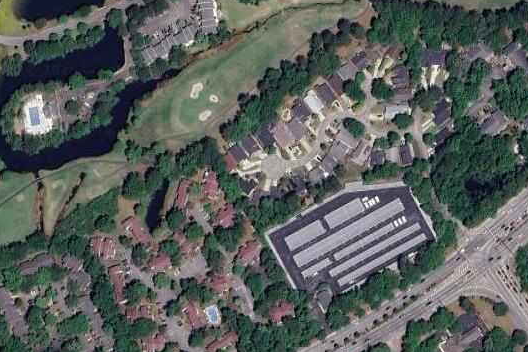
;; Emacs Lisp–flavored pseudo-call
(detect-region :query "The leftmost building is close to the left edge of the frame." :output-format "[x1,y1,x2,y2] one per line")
[0,284,27,340]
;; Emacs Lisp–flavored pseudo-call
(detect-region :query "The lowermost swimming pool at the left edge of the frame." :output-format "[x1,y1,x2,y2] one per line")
[24,94,52,135]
